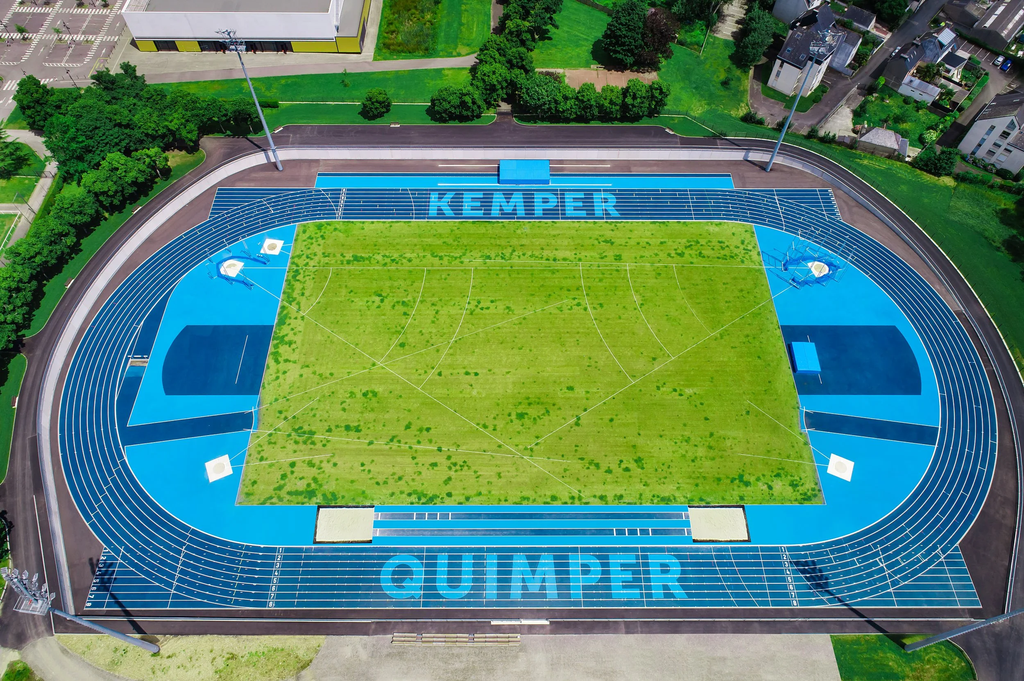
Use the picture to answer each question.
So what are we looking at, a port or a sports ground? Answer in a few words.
sports ground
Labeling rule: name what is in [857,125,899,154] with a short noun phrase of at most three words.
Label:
house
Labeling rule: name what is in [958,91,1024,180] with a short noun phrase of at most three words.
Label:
house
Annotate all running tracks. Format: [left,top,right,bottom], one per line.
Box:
[58,172,998,609]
